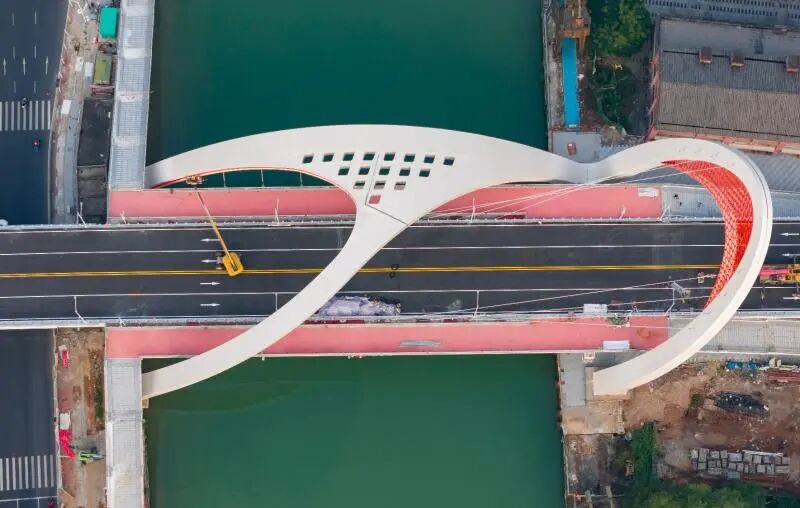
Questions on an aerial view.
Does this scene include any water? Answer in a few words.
Yes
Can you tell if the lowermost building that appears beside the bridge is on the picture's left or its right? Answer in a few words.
right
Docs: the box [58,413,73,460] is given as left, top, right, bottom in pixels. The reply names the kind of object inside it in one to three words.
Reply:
vehicle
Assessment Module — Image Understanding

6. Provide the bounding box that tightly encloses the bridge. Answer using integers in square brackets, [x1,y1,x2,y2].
[0,183,800,360]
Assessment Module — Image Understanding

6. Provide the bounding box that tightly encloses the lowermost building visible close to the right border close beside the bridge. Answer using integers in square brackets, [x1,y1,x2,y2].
[641,16,800,154]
